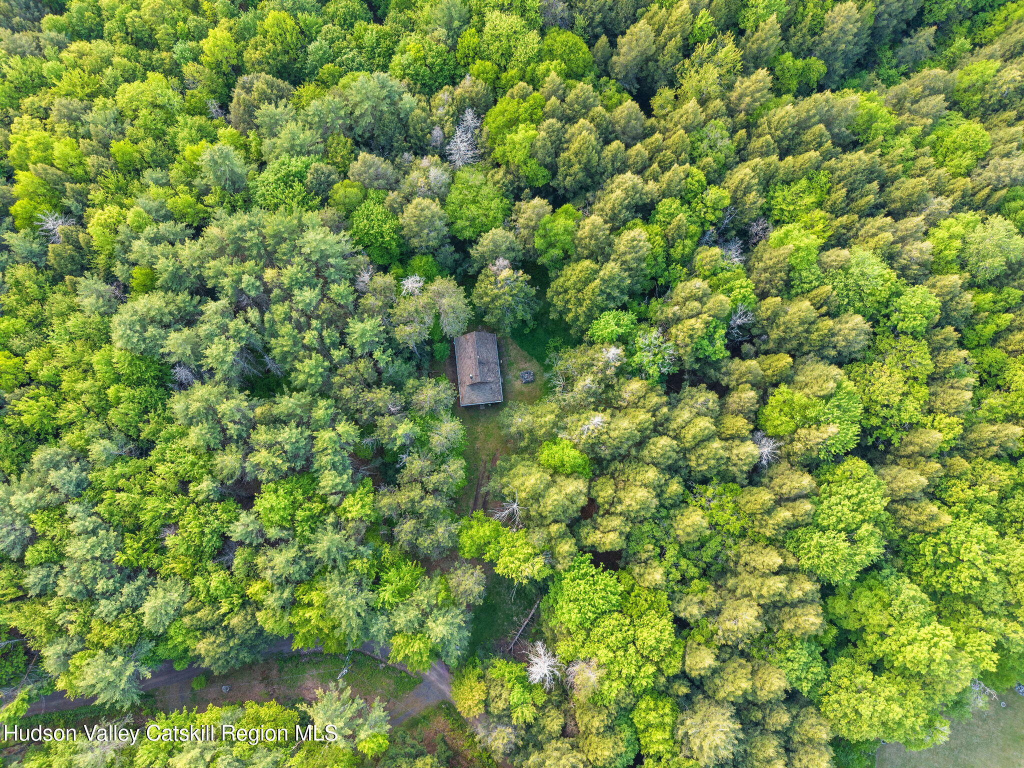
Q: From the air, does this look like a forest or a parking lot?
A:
forest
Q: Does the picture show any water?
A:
No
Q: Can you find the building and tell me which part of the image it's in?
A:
center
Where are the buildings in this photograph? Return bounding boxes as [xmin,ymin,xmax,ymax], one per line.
[454,332,503,408]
